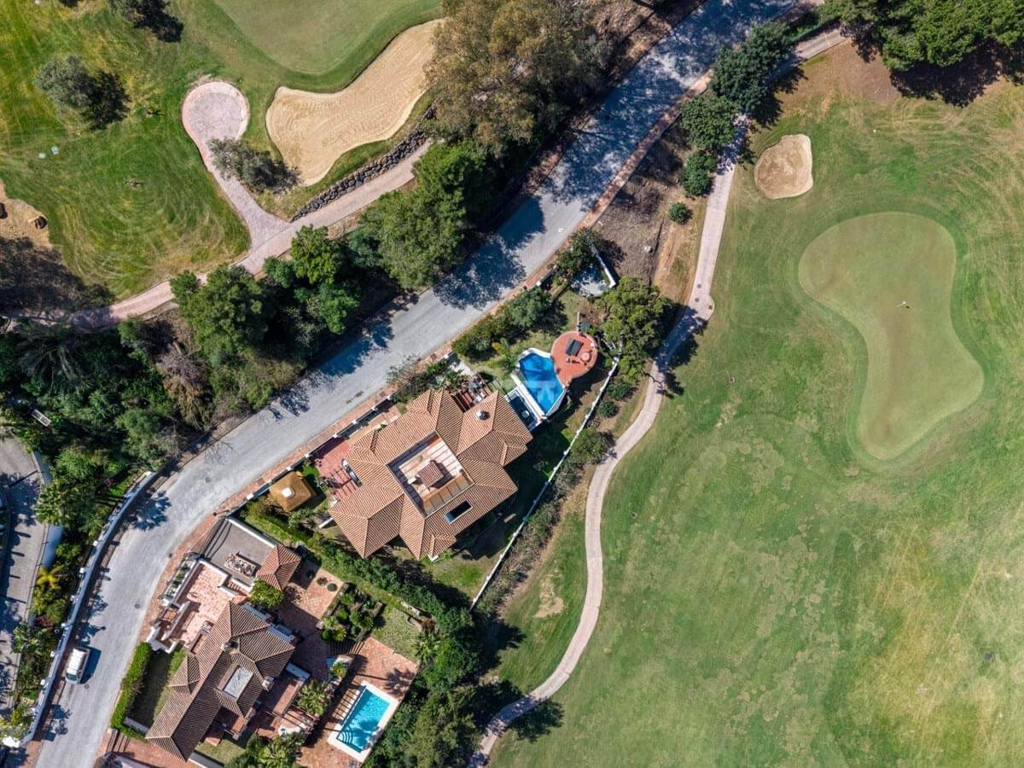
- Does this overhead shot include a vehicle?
Yes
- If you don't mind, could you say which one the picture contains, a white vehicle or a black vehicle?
white vehicle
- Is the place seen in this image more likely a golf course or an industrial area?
golf course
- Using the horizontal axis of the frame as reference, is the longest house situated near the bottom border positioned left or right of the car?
on its right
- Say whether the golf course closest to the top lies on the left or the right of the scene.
left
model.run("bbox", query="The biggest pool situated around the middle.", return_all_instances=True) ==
[507,348,569,424]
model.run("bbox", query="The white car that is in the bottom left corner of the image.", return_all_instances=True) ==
[64,646,89,684]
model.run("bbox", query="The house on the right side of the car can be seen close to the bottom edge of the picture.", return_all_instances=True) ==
[145,596,298,762]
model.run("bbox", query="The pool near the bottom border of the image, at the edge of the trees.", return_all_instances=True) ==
[328,680,399,762]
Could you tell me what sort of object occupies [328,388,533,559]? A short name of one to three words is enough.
house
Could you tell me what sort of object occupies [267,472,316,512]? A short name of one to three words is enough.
shed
